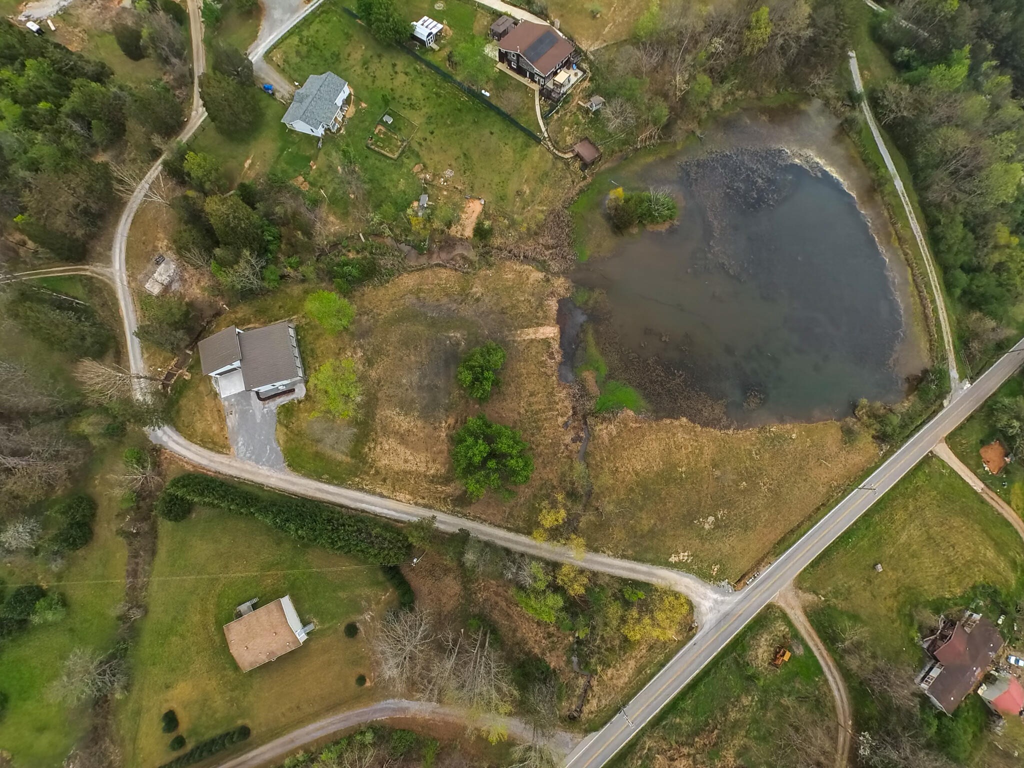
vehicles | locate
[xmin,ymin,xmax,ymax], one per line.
[24,21,44,39]
[153,255,165,265]
[1005,654,1024,668]
[766,644,790,670]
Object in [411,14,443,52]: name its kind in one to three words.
shed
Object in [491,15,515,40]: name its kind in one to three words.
gazebo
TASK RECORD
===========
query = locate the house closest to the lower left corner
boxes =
[223,594,318,673]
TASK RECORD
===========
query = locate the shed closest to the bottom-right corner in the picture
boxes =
[975,665,1024,712]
